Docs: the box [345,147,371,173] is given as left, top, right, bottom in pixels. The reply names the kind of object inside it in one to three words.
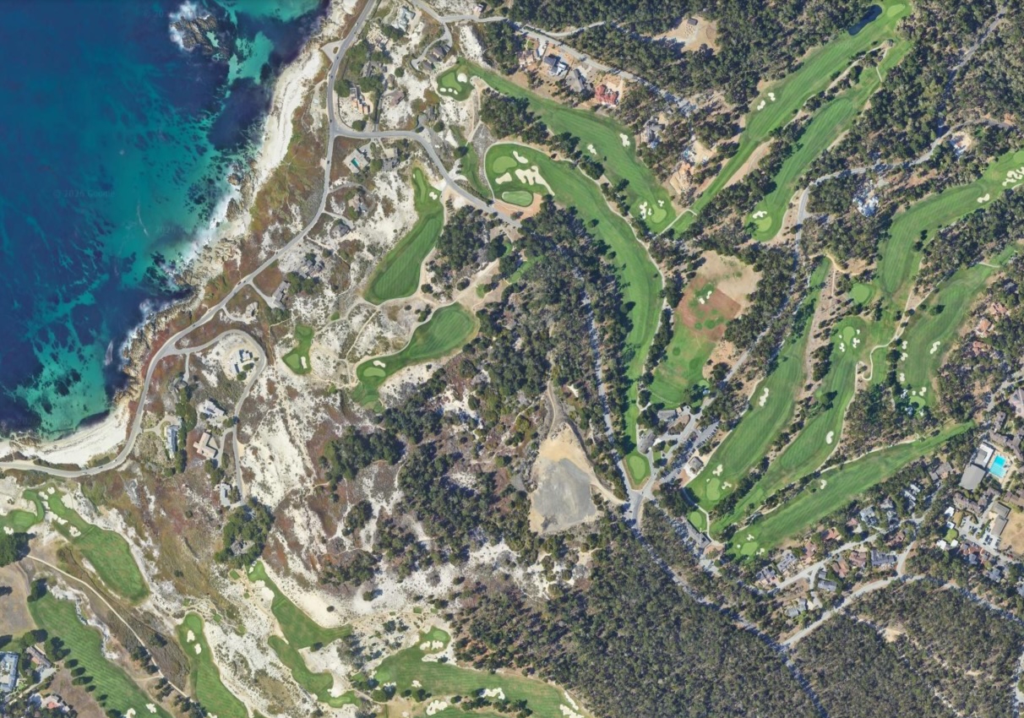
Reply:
house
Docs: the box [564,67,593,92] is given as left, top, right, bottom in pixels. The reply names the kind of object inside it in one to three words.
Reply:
house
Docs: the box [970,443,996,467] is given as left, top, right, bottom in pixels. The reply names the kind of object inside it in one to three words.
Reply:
building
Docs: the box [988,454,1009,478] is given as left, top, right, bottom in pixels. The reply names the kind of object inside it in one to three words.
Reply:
swimming pool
